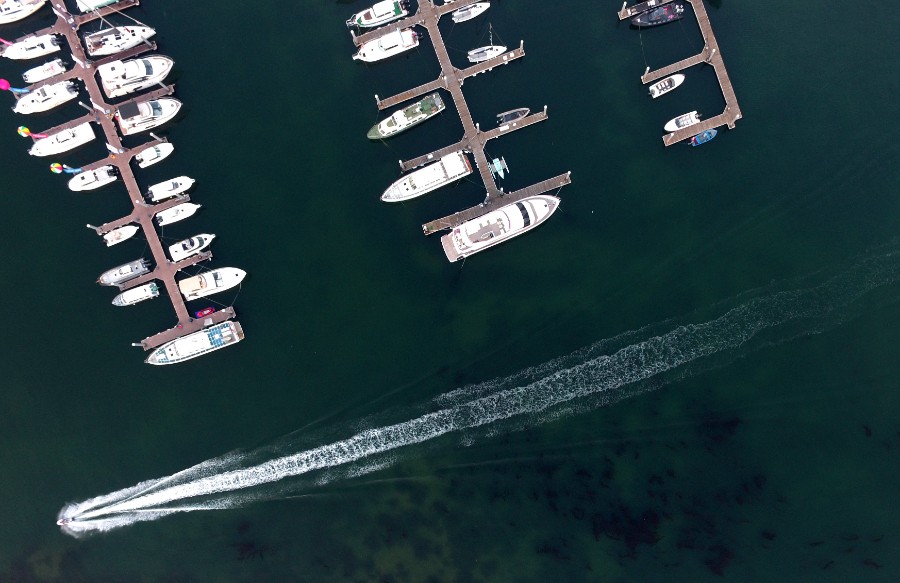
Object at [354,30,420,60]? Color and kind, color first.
white boat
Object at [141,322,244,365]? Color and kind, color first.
white boat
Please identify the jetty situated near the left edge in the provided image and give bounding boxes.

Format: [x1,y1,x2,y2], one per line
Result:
[0,0,236,350]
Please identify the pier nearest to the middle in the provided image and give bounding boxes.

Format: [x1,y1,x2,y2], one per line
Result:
[353,0,573,235]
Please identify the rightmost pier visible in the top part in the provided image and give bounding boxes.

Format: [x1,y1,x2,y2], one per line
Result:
[618,0,744,146]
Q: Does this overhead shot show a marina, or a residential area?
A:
marina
